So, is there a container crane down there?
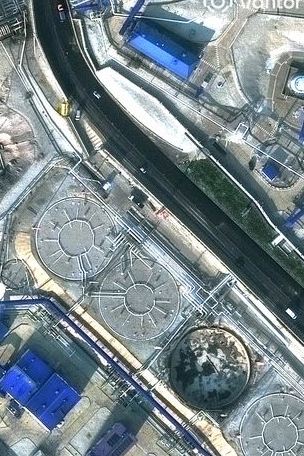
No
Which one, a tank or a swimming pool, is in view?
tank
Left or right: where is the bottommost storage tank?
right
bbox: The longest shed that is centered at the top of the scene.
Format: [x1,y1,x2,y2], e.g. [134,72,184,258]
[127,25,200,81]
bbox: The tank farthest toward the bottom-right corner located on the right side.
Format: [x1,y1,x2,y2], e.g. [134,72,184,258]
[240,393,304,456]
